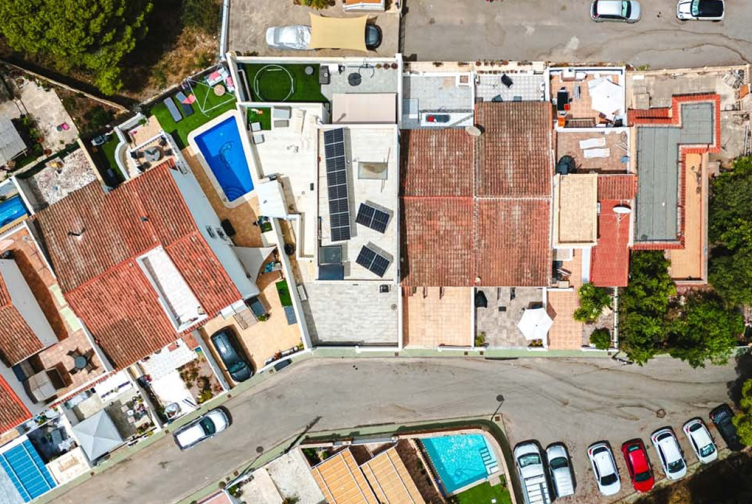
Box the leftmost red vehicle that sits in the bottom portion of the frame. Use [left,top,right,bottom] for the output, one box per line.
[621,437,654,494]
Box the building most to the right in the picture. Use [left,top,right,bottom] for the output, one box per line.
[628,94,722,284]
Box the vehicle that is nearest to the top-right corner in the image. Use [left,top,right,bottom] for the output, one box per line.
[675,0,726,23]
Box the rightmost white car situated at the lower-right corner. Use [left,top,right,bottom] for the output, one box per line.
[681,414,717,466]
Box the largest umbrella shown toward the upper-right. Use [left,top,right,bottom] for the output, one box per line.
[585,76,629,119]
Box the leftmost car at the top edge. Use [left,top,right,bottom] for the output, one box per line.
[264,24,312,52]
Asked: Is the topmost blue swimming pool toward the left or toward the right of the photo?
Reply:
left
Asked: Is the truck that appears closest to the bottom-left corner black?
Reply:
No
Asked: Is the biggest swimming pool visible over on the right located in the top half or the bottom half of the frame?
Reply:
bottom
